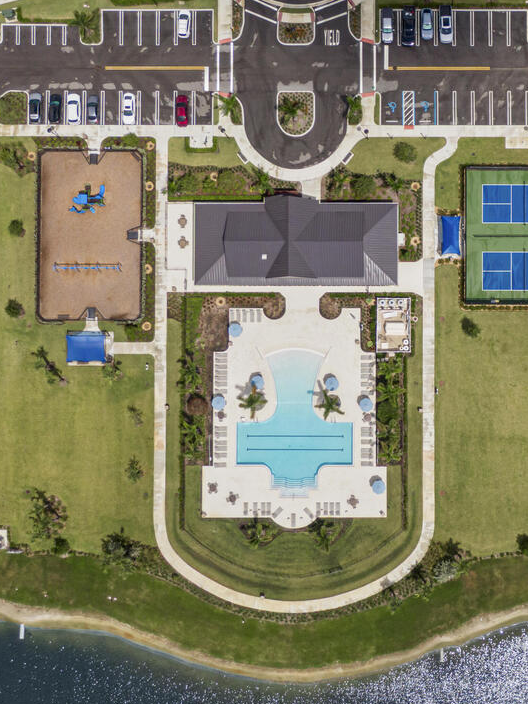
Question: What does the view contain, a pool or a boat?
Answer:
pool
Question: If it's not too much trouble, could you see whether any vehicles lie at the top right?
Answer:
Yes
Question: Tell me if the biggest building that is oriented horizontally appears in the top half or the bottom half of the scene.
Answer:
top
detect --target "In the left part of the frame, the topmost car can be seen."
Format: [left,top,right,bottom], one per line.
[175,9,192,40]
